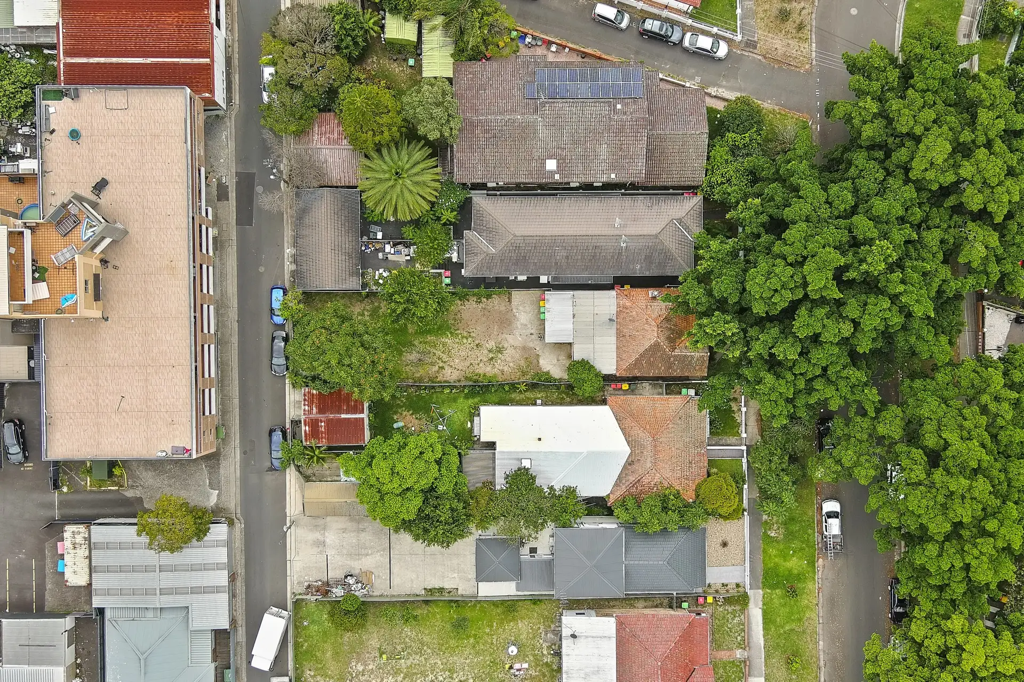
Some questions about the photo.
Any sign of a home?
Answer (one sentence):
Yes, a home is visible in the scene.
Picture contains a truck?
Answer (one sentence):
Yes, the photo shows a truck.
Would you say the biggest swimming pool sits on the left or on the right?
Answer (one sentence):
The biggest swimming pool is on the left side of the image.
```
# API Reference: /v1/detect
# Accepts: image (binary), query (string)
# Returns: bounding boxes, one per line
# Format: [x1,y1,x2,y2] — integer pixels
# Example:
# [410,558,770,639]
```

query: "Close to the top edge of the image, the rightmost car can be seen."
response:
[681,34,728,60]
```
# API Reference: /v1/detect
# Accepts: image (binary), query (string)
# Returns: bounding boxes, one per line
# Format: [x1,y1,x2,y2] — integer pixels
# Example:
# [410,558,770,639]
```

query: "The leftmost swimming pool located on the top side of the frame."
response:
[14,200,41,220]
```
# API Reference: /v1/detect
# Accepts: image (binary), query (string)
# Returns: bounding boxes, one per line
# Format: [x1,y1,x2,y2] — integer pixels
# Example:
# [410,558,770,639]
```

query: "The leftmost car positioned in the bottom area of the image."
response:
[3,417,30,463]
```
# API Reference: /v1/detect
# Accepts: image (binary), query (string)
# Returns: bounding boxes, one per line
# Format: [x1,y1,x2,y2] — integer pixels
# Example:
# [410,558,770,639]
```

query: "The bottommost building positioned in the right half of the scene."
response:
[562,605,713,682]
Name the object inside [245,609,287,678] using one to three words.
truck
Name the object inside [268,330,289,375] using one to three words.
car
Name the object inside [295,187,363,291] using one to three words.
building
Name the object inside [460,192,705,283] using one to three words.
house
